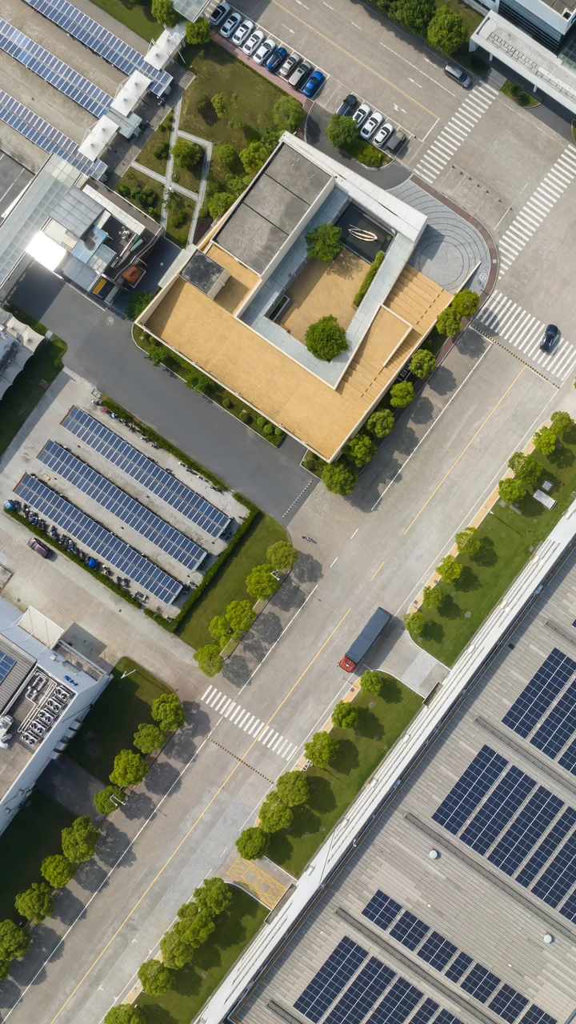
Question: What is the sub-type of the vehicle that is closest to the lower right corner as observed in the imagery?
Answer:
truck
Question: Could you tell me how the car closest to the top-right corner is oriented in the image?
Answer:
diagonally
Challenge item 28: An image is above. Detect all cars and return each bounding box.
[371,122,395,149]
[288,60,313,90]
[252,38,276,66]
[279,53,300,78]
[231,19,255,47]
[264,45,288,74]
[301,70,326,98]
[208,0,232,28]
[26,538,51,560]
[334,92,359,120]
[351,103,373,130]
[361,113,384,141]
[242,29,266,57]
[541,323,557,353]
[219,11,243,39]
[443,64,471,88]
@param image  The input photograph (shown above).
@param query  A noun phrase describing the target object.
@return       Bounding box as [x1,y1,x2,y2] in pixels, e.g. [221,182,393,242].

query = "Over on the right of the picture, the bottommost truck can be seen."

[338,604,394,671]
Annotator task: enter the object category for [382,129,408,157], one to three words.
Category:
truck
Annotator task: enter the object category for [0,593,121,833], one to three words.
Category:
building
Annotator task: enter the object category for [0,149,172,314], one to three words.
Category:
building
